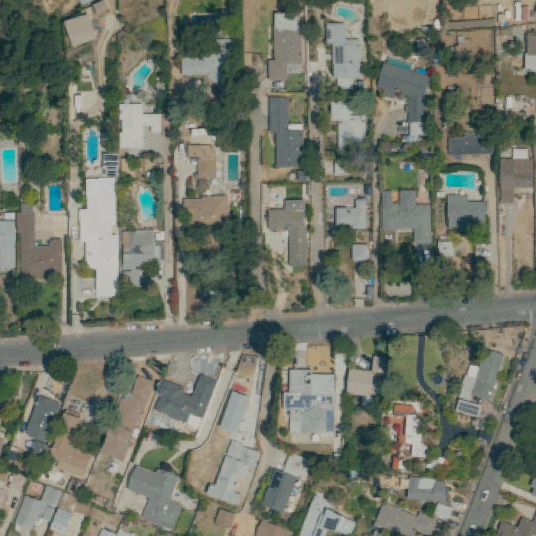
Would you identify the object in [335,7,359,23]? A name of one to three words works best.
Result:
swimming pool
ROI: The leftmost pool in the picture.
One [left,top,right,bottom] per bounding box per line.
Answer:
[1,148,19,183]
